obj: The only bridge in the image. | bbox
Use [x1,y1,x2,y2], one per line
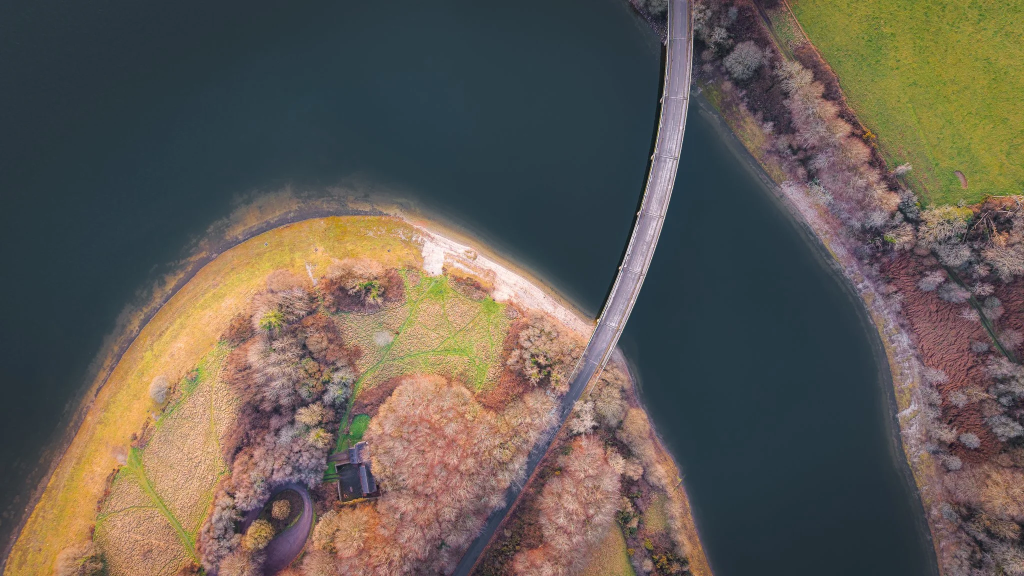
[567,0,694,396]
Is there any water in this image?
Yes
